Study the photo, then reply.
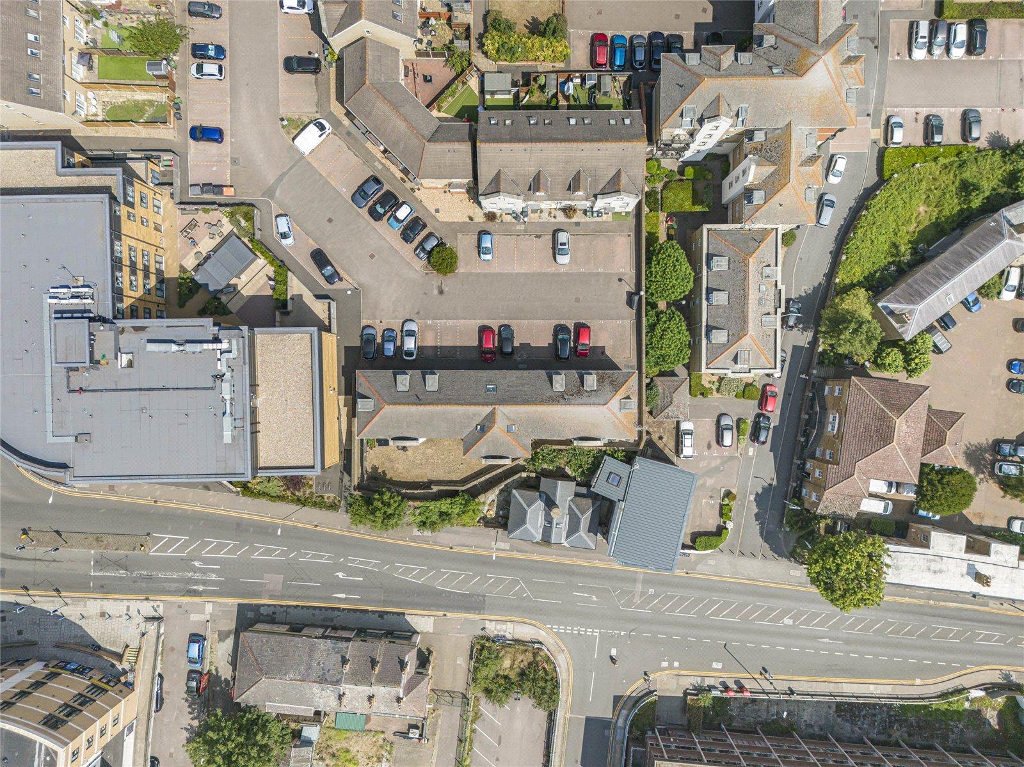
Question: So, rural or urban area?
urban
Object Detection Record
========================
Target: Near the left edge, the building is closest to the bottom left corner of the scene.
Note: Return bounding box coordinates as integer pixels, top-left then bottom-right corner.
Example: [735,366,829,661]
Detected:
[0,659,137,767]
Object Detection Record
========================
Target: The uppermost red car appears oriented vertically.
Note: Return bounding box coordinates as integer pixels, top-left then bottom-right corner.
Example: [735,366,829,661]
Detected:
[592,37,608,69]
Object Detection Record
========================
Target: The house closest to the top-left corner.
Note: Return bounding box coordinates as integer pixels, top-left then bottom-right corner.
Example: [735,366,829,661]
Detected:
[0,0,84,125]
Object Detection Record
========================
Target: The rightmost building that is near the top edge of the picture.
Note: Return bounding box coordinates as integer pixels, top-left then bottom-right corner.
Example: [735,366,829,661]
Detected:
[647,0,865,239]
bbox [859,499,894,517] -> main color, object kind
white vehicle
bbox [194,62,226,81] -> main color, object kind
white car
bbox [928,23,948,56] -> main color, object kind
gray car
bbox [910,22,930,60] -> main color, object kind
white car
